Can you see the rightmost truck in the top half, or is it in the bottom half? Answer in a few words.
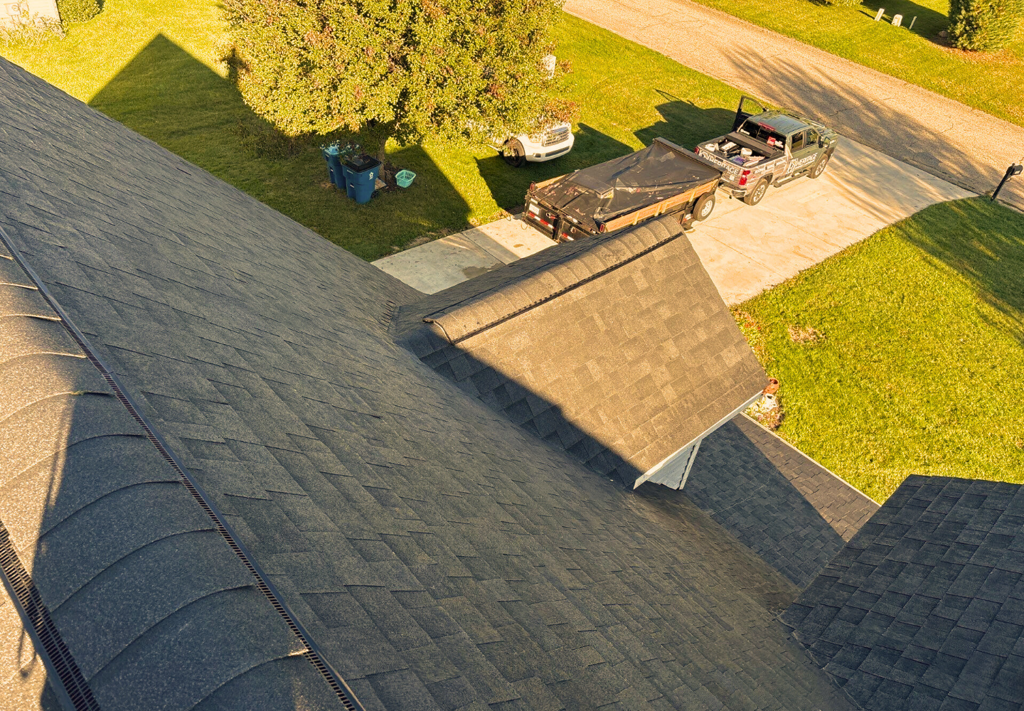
top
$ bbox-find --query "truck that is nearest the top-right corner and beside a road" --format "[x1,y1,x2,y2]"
[696,102,839,200]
